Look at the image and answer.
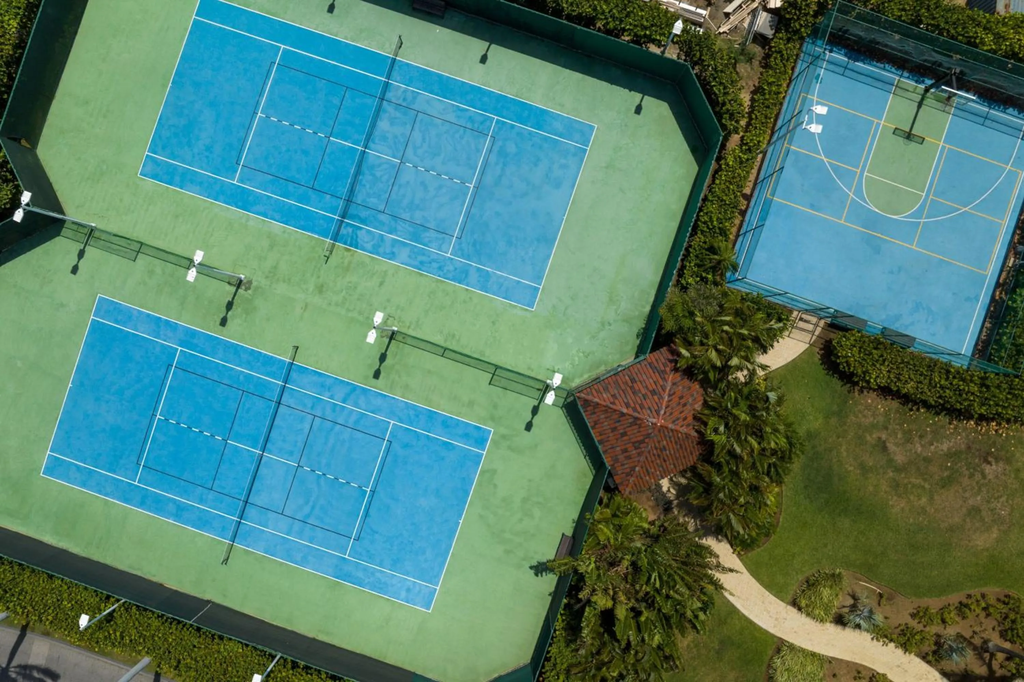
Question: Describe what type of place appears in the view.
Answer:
sports ground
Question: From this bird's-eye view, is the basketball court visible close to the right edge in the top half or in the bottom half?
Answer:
top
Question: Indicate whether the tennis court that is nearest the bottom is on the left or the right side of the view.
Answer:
left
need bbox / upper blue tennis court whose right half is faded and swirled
[37,0,706,389]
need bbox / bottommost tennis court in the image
[0,220,598,682]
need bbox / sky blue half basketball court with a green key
[725,34,1024,367]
